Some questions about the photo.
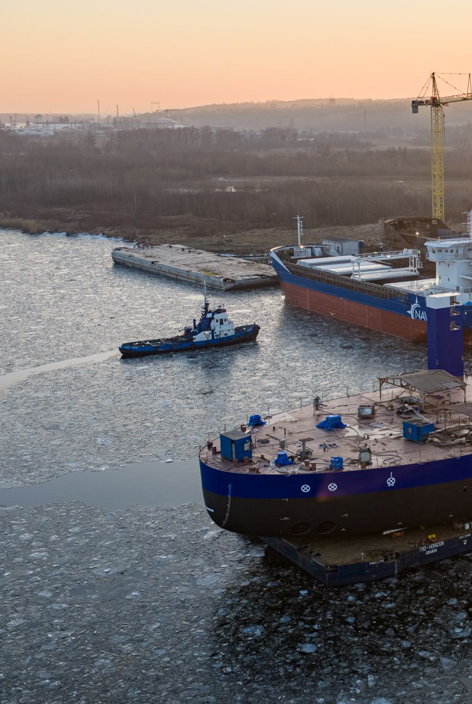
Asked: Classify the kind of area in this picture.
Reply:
port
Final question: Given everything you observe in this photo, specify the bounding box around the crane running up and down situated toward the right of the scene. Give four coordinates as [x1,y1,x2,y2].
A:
[413,73,472,213]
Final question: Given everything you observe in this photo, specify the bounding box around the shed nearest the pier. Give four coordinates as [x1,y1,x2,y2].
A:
[326,238,360,255]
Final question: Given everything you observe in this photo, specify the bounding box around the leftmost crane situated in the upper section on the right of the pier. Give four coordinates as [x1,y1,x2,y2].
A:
[346,247,410,282]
